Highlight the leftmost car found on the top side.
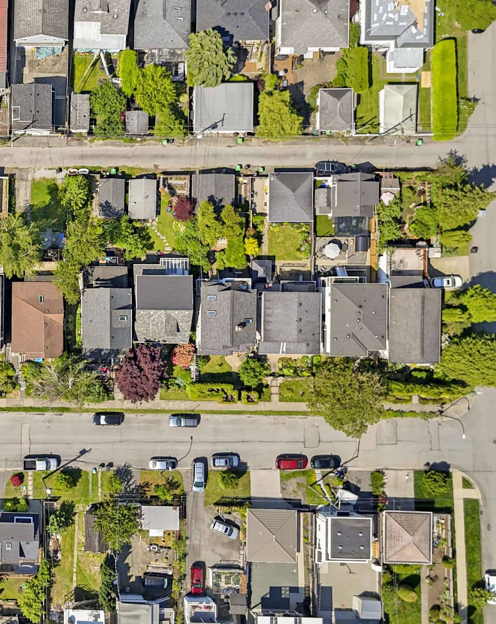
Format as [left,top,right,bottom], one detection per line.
[314,161,345,176]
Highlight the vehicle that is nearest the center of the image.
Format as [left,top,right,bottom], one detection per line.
[167,413,200,428]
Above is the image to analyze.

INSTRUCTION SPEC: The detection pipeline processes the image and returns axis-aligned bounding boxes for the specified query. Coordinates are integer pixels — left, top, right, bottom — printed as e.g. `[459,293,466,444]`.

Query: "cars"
[430,275,462,289]
[309,455,341,469]
[146,457,178,471]
[22,457,59,472]
[208,518,241,539]
[470,26,485,37]
[167,413,200,428]
[90,412,123,426]
[314,161,345,176]
[141,572,174,589]
[209,453,240,468]
[274,455,307,469]
[191,459,207,493]
[482,569,496,605]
